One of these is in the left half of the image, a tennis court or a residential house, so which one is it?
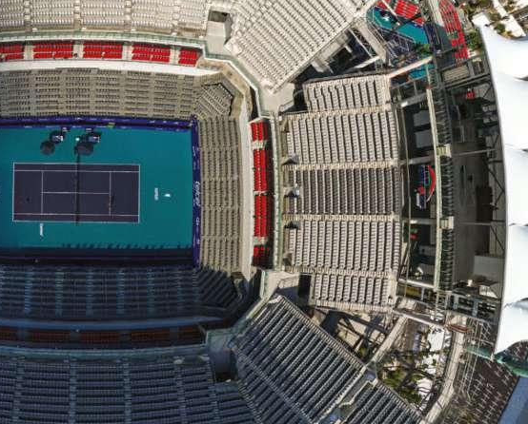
tennis court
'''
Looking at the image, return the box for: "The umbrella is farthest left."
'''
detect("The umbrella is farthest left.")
[39,140,54,154]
